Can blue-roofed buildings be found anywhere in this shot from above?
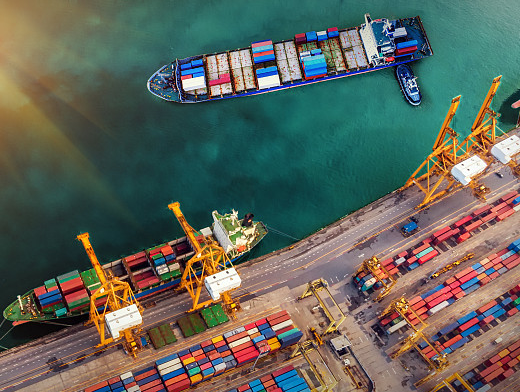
No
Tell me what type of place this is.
port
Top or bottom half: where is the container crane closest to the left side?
bottom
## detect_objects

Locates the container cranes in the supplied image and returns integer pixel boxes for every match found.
[296,279,349,339]
[426,71,520,196]
[389,91,493,215]
[168,194,240,321]
[391,335,455,388]
[81,225,150,360]
[347,255,401,307]
[422,372,474,392]
[374,297,433,349]
[287,340,344,392]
